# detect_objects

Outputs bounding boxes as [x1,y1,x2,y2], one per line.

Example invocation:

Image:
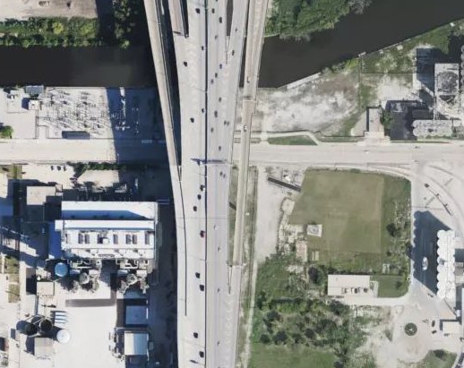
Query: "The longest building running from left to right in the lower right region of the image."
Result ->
[329,275,377,297]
